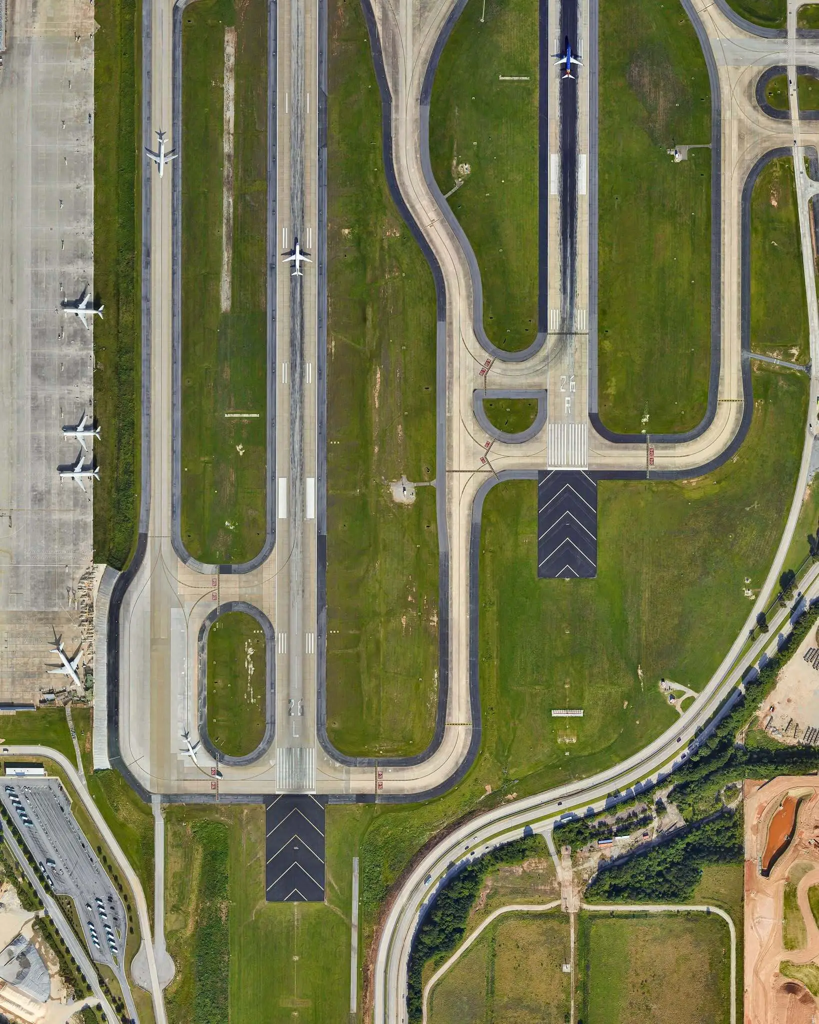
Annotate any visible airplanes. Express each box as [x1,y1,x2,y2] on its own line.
[146,138,178,177]
[63,415,100,452]
[60,455,98,493]
[282,243,313,275]
[181,740,201,764]
[48,644,85,686]
[63,293,103,329]
[553,47,584,78]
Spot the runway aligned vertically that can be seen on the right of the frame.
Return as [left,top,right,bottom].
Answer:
[538,0,599,470]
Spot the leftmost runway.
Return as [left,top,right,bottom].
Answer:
[267,0,327,794]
